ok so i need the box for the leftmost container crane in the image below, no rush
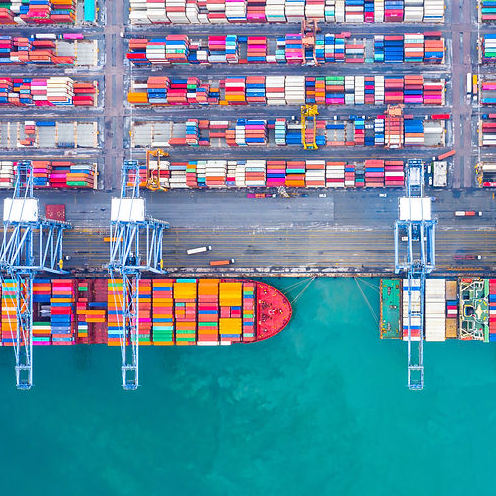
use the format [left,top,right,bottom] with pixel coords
[0,159,75,392]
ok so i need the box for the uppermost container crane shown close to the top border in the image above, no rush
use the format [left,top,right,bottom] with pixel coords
[303,17,321,67]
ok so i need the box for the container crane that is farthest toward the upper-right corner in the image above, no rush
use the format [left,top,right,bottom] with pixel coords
[385,103,404,151]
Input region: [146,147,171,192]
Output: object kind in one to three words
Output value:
container crane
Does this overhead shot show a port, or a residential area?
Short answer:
port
